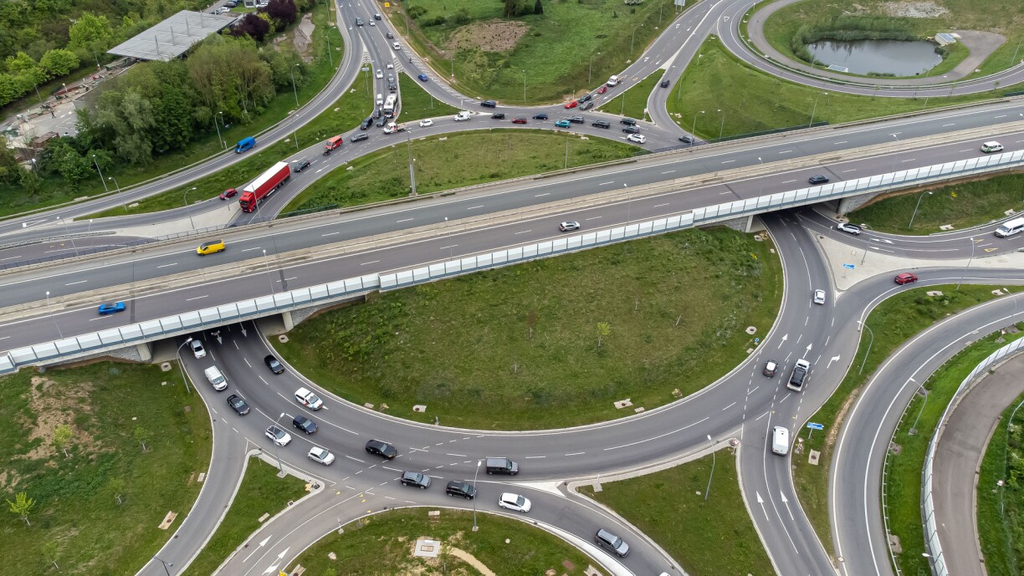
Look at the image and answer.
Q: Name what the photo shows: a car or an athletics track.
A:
car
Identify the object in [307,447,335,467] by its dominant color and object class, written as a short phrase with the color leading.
white car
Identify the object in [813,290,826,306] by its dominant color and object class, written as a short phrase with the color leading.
white vehicle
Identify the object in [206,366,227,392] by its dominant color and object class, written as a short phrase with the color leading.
white vehicle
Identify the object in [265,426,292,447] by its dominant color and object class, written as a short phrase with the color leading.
white car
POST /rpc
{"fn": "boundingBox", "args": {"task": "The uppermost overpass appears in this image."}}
[696,163,1024,235]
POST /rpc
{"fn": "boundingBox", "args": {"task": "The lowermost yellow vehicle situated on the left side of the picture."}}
[197,239,225,254]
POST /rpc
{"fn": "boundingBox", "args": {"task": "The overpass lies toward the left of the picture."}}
[63,286,398,367]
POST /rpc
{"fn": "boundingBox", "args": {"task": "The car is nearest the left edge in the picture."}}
[97,302,127,316]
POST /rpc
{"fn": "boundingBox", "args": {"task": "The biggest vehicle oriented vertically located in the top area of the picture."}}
[382,91,397,117]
